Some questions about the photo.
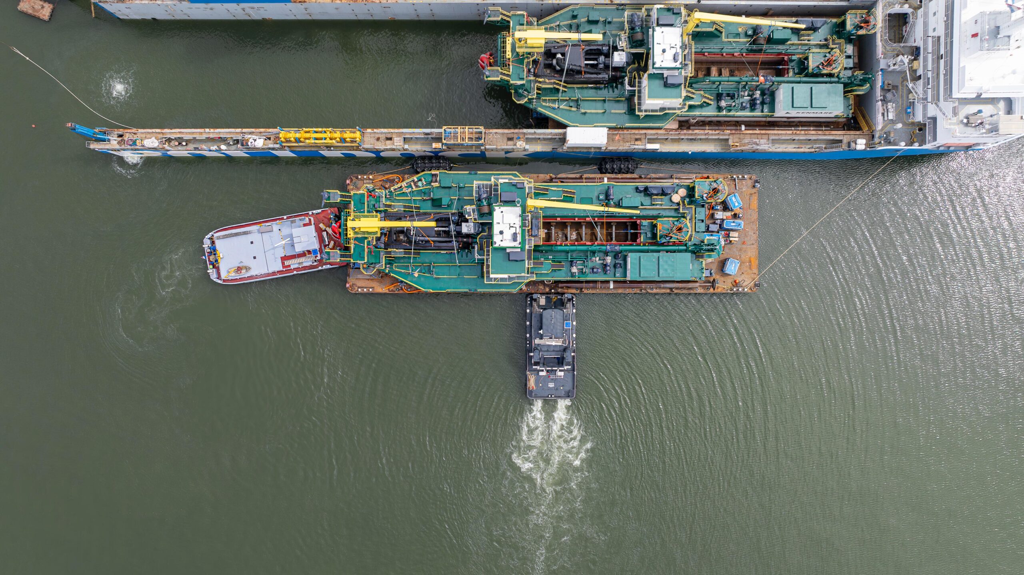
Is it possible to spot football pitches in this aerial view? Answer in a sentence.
No, this view has no football pitch in it.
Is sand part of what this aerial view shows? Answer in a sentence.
No, there is no sand in the image.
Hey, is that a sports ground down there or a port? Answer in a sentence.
The area seen from above is a port.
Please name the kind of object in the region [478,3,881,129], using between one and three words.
ship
